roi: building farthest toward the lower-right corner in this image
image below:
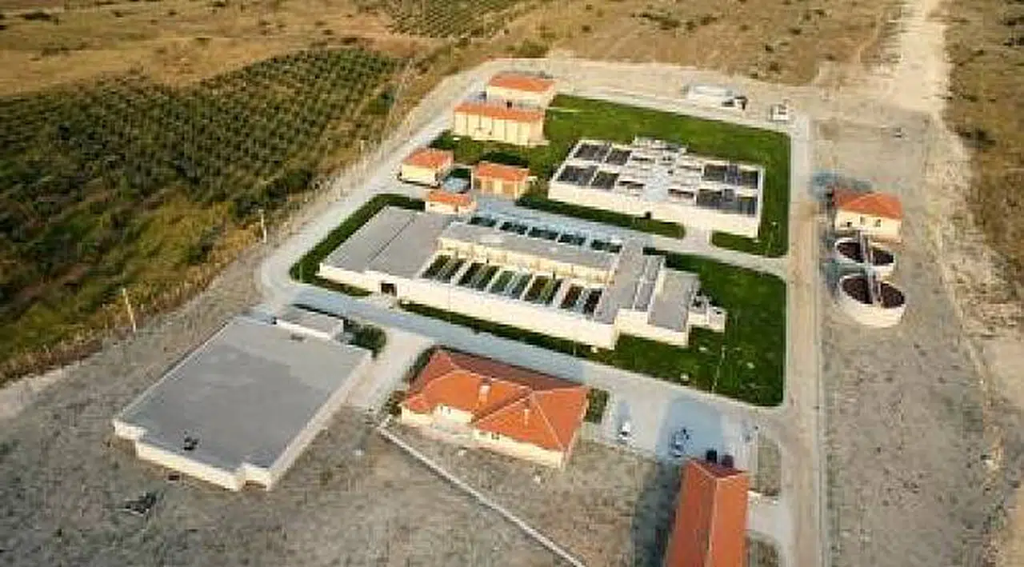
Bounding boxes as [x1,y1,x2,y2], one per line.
[659,454,752,567]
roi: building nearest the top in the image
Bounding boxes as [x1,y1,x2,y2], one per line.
[488,73,553,108]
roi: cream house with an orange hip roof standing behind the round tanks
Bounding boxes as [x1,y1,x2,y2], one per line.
[830,188,904,241]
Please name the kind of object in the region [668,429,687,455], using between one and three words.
car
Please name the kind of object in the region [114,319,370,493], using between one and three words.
warehouse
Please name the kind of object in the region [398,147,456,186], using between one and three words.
building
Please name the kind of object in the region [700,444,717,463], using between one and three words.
car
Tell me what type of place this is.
industrial area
